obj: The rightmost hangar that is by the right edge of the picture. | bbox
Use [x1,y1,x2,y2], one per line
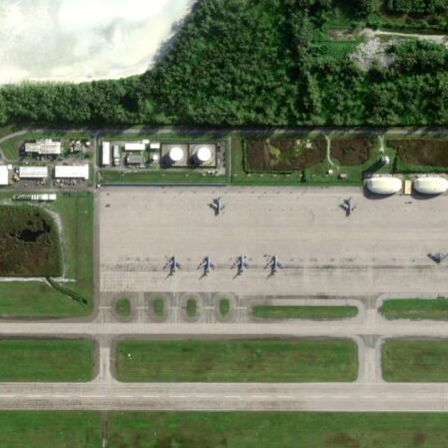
[414,176,448,194]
